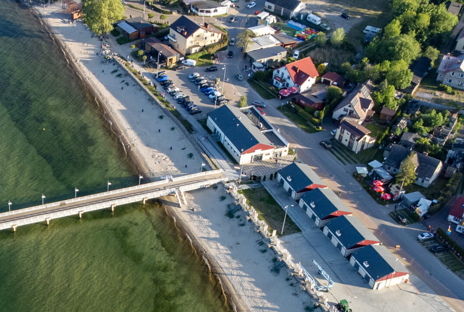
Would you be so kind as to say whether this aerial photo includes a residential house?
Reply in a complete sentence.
Yes, this view includes a residential house.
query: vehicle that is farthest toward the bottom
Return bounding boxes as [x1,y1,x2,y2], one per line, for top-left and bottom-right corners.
[336,299,353,312]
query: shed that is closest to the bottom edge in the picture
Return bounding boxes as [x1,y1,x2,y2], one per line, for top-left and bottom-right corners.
[349,245,410,288]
